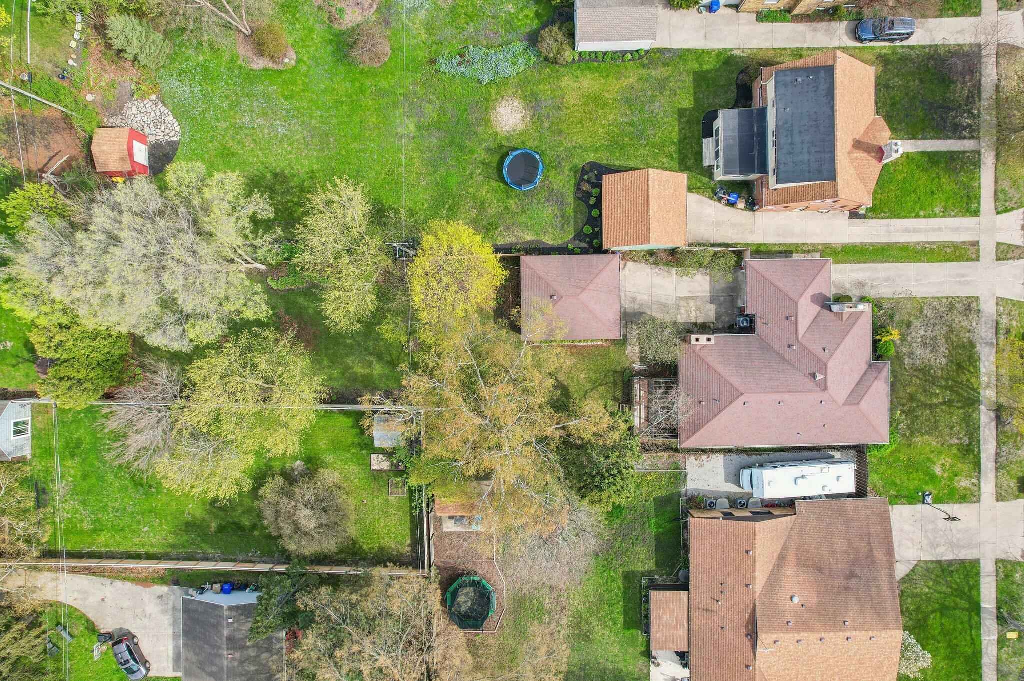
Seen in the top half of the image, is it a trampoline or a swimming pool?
trampoline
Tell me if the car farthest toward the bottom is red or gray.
gray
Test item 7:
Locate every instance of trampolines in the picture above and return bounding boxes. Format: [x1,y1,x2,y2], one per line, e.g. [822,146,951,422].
[444,573,496,629]
[502,145,545,193]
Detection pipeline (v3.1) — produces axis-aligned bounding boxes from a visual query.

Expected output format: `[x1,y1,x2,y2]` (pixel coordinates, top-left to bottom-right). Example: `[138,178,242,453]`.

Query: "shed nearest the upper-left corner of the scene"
[91,128,151,176]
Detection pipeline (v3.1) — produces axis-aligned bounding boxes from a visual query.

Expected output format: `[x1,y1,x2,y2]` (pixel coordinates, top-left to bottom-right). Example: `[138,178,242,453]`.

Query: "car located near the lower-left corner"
[111,634,152,681]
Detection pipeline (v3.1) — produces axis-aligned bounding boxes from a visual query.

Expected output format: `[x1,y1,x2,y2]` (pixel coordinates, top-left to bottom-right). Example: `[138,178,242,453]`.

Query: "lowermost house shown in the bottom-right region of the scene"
[646,494,903,681]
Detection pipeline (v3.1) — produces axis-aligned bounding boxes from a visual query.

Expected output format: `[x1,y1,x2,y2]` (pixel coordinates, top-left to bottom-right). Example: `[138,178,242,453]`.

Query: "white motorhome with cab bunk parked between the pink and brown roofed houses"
[731,457,852,498]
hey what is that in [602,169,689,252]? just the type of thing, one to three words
building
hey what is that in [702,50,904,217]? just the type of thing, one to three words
house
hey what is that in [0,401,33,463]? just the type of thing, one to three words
house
